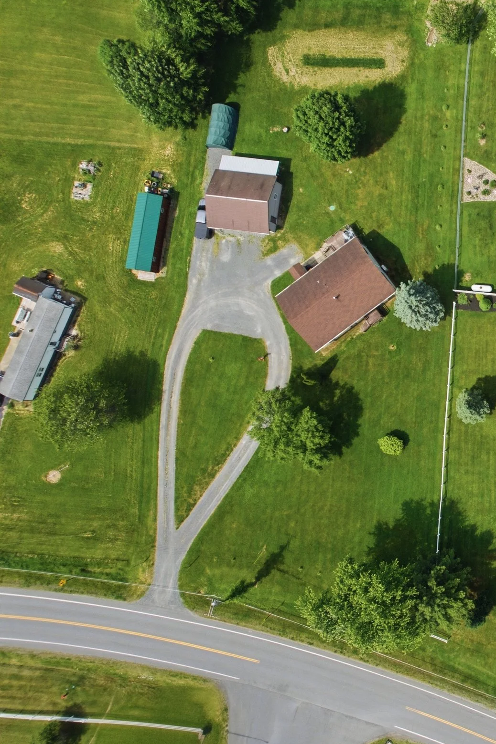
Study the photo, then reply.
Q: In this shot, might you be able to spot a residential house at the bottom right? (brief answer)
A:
No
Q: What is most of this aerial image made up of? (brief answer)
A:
grass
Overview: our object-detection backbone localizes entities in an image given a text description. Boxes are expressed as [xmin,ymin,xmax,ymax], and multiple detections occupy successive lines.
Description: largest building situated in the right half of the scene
[274,224,397,352]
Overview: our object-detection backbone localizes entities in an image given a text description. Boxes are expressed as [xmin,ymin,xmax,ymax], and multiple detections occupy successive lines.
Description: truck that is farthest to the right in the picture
[193,198,215,240]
